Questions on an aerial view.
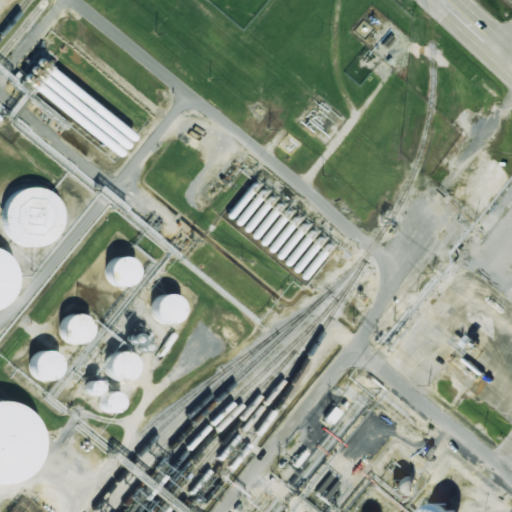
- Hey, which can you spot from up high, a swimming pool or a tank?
tank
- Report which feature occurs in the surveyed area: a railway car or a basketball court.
railway car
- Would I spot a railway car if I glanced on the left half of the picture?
Yes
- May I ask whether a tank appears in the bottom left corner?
Yes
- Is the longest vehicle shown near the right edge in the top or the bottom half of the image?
bottom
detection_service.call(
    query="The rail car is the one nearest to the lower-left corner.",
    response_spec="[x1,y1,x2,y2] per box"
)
[97,484,118,509]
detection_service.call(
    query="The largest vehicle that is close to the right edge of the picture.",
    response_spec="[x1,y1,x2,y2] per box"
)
[456,355,490,381]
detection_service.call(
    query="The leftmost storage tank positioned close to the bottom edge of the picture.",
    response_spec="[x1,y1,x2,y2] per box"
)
[0,398,48,486]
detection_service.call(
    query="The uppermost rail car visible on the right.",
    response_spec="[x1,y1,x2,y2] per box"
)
[305,330,327,358]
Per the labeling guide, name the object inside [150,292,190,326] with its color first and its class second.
white storage tank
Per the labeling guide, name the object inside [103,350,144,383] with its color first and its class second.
white storage tank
